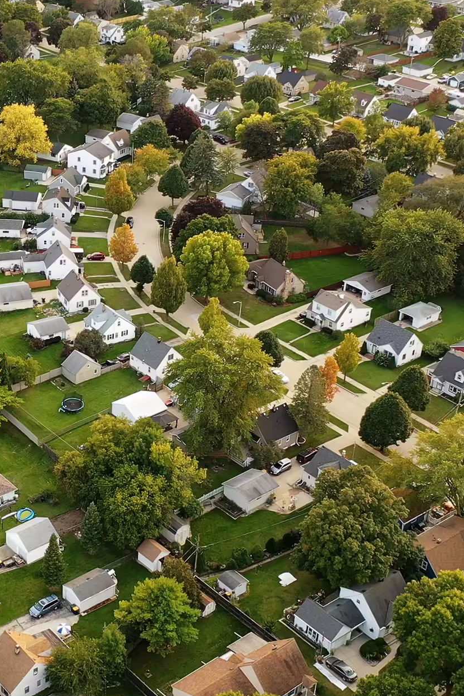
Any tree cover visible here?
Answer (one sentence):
Yes, there is tree cover in the image.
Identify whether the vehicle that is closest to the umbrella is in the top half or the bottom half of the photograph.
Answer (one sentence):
You can find the vehicle that is closest to the umbrella in the bottom half.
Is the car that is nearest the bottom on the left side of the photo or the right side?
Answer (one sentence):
The car that is nearest the bottom is on the right side of the image.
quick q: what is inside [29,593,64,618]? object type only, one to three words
vehicle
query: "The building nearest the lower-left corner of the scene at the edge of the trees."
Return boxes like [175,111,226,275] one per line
[0,623,58,696]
